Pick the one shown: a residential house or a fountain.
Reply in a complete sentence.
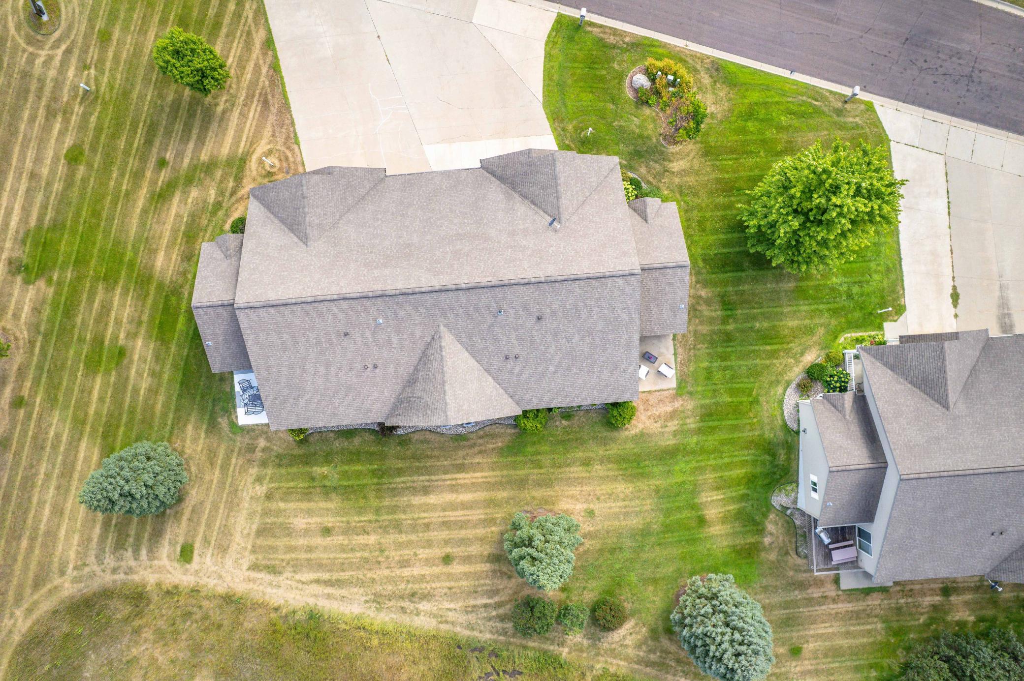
The image shows a residential house.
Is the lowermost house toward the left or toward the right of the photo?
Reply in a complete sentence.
The lowermost house sits on the right side.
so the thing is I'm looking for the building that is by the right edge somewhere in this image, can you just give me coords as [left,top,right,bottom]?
[797,327,1024,588]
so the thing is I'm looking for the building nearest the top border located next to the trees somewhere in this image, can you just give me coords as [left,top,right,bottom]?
[191,148,690,430]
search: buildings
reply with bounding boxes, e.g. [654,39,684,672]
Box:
[797,327,1024,588]
[191,148,690,430]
